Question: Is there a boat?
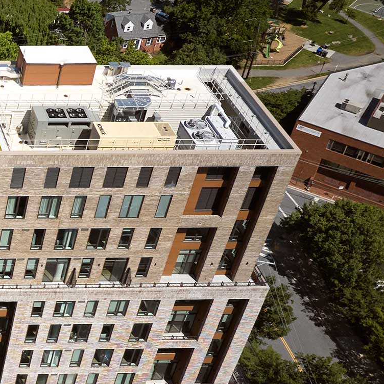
No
